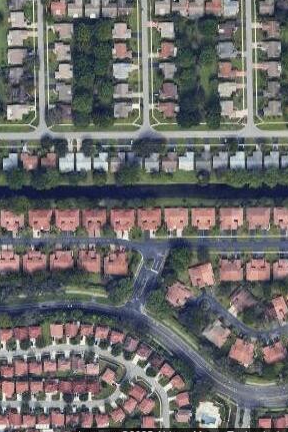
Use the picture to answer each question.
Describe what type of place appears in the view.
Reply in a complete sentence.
What you see here is a residential area.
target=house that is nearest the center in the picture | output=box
[139,209,162,231]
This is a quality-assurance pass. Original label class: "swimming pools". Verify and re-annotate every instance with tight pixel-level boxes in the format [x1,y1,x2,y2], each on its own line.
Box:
[196,402,220,427]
